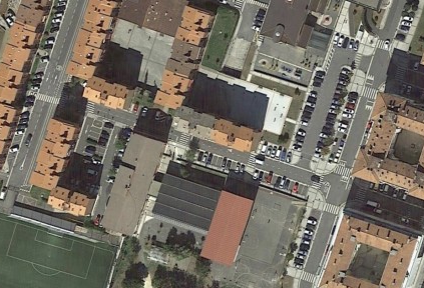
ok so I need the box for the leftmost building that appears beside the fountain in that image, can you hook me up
[259,0,315,48]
